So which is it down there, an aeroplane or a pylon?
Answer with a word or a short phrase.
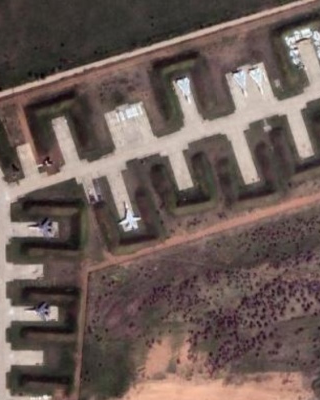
aeroplane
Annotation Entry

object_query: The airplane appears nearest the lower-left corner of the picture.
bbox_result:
[24,303,50,321]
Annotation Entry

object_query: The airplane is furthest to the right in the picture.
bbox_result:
[248,67,262,95]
